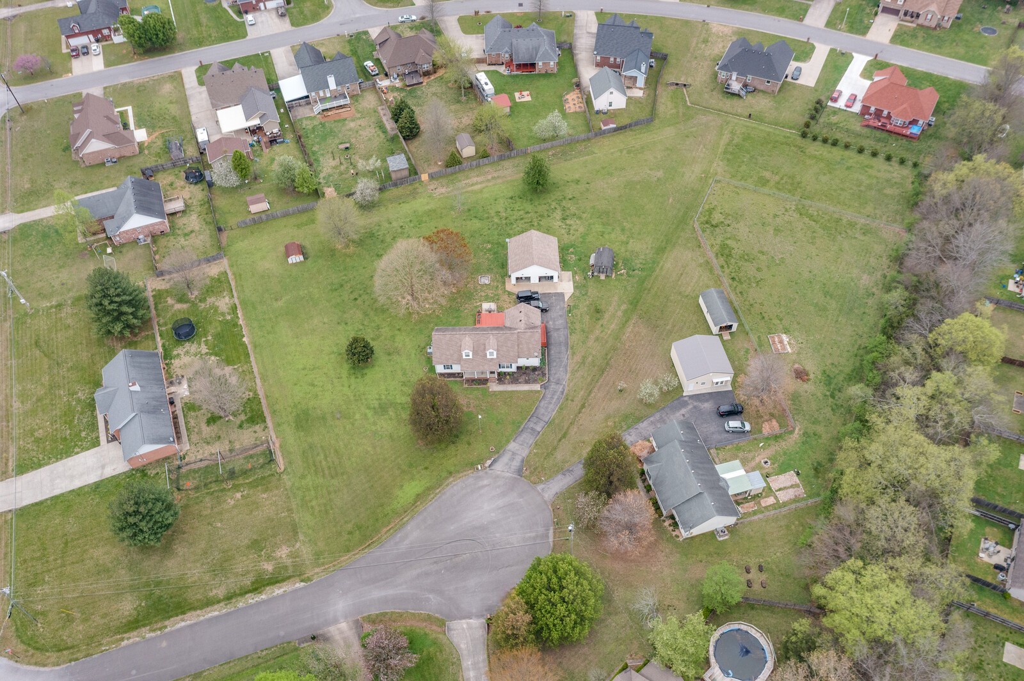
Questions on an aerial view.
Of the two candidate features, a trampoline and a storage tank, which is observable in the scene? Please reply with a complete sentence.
There is a trampoline in the scene.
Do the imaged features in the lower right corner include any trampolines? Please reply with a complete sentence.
No, I see no trampoline in the lower right corner.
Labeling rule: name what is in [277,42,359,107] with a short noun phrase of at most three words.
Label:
house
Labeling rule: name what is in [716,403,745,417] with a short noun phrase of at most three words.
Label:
car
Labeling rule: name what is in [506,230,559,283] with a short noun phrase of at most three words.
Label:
building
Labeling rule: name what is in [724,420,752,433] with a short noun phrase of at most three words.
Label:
vehicle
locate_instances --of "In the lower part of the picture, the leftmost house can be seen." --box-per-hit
[94,350,179,468]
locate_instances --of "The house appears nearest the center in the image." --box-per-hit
[432,300,543,382]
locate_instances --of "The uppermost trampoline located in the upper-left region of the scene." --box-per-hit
[182,164,203,183]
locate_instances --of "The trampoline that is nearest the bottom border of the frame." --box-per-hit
[170,317,196,341]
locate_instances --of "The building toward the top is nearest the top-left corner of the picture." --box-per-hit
[54,0,124,44]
